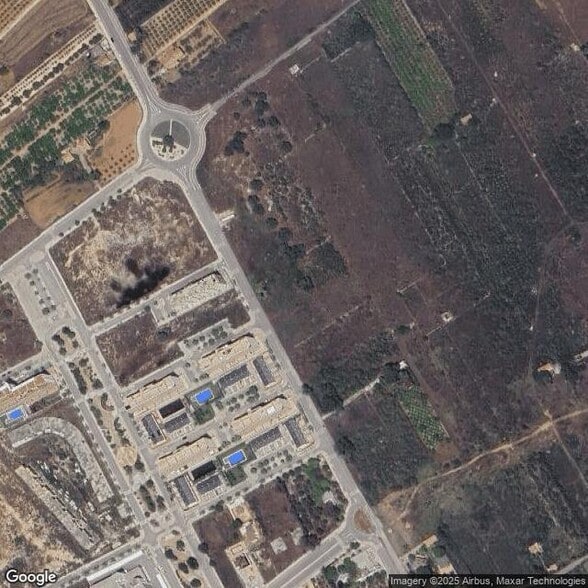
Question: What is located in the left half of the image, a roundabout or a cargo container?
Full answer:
There is a roundabout in the left half of the image.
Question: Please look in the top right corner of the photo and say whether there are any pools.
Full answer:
No, no pool can be made out in the top right corner of the photo.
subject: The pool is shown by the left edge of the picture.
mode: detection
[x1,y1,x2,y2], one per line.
[4,407,26,422]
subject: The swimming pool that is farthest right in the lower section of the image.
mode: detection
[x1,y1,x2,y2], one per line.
[224,448,247,467]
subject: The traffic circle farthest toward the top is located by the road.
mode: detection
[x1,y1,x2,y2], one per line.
[123,86,211,193]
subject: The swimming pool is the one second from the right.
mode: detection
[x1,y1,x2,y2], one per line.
[194,388,215,405]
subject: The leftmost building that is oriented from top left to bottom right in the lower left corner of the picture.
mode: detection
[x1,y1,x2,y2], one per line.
[15,465,99,549]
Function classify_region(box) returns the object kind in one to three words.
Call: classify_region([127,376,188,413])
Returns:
building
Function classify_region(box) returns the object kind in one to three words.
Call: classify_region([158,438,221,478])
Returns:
building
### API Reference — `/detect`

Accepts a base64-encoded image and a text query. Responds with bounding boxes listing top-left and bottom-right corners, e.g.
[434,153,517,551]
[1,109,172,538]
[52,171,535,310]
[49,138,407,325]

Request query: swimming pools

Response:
[194,388,215,405]
[4,407,26,422]
[224,448,247,467]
